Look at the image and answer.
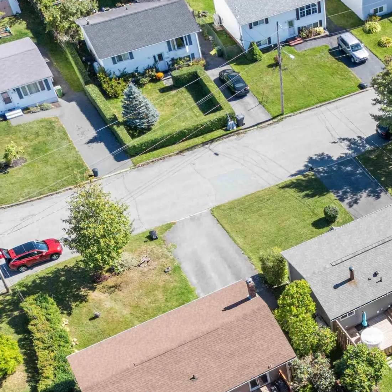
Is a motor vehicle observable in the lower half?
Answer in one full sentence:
Yes, a motor vehicle appears in the lower half.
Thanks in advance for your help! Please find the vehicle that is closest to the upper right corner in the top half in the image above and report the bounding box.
[336,30,370,62]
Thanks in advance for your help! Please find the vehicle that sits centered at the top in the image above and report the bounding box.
[216,69,251,99]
